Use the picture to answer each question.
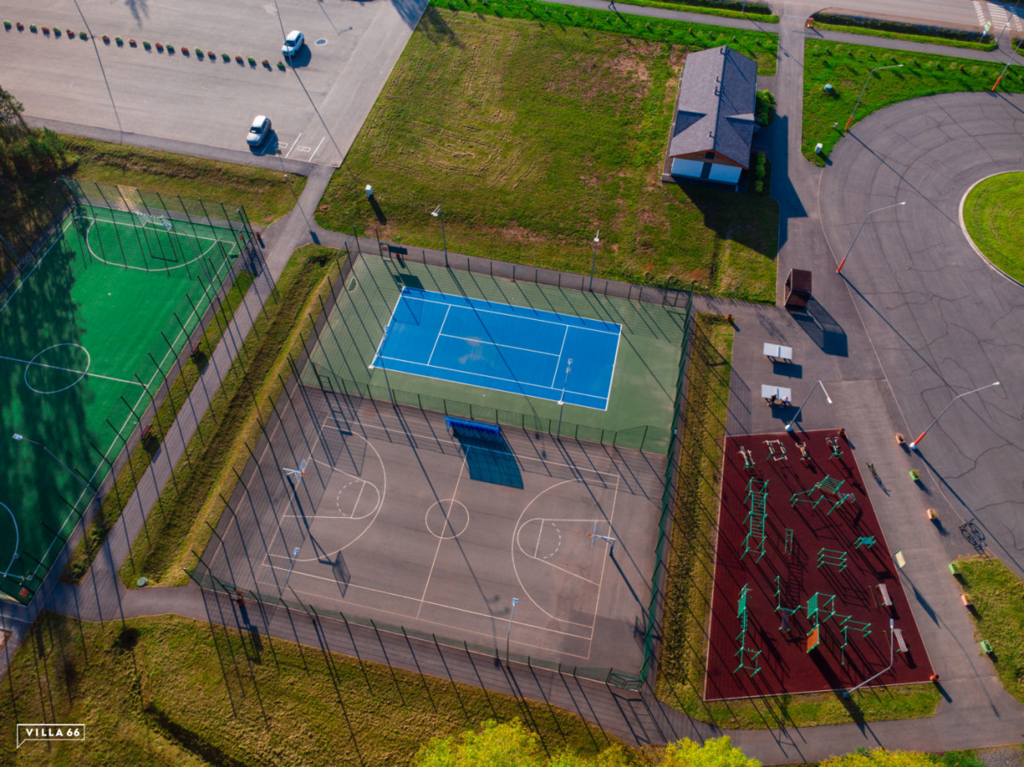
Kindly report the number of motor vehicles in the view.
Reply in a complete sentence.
The count of motor vehicles comes to 2.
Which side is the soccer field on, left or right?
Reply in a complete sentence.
The soccer field is on the left side of the image.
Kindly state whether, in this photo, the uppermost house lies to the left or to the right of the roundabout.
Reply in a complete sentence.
The uppermost house appears to the left of the roundabout in this view.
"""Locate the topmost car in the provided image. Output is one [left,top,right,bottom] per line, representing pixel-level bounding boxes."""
[280,29,302,54]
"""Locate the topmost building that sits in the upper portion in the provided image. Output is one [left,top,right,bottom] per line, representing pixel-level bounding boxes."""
[659,43,756,192]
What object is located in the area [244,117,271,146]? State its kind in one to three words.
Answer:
car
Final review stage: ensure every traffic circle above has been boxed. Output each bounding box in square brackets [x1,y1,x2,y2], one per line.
[820,92,1024,578]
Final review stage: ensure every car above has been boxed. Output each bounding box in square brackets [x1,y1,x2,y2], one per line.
[280,29,302,54]
[244,117,271,146]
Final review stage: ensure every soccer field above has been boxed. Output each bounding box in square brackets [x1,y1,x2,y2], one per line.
[0,203,254,608]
